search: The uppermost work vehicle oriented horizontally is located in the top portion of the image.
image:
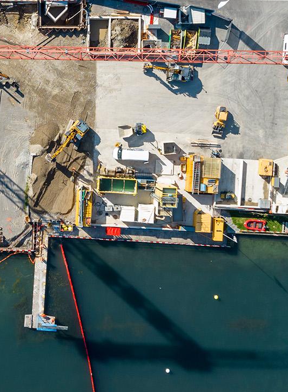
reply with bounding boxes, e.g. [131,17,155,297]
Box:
[143,66,193,84]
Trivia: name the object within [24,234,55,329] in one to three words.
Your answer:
pier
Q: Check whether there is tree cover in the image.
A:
No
